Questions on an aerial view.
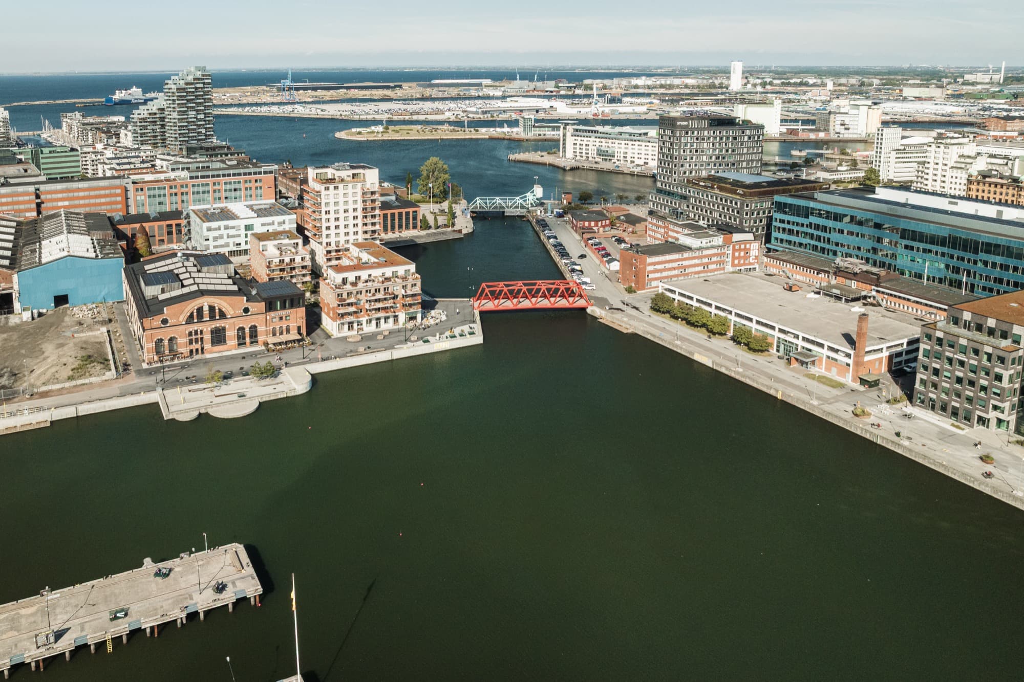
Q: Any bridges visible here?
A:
Yes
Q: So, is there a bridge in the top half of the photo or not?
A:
Yes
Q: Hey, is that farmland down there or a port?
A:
port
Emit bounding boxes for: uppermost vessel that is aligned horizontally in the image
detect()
[100,85,165,105]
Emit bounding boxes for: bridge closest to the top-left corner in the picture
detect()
[461,170,556,217]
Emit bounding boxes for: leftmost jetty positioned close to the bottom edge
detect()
[0,542,263,682]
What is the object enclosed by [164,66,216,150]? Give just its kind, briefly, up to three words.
building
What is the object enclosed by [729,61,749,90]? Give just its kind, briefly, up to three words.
silo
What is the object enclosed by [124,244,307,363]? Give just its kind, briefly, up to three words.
building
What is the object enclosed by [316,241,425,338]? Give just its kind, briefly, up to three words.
house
